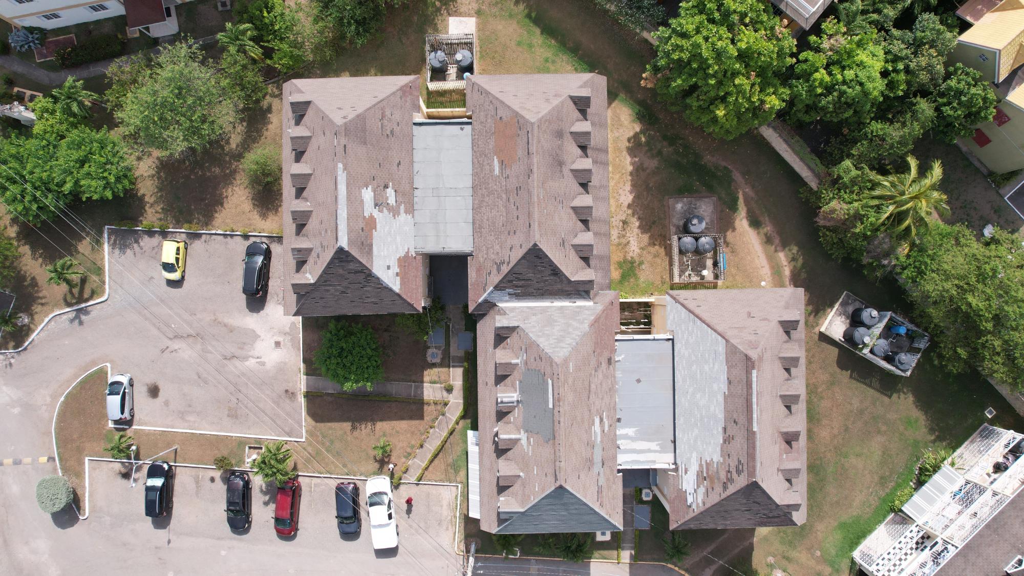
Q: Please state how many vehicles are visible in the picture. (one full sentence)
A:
The number of vehicles here is 8.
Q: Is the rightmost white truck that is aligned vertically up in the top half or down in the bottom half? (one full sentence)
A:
It is in the bottom half that the rightmost white truck that is aligned vertically appears.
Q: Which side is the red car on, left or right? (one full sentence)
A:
The red car is on the left side of the image.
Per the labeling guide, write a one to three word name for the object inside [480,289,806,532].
building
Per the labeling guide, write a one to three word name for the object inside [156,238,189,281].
car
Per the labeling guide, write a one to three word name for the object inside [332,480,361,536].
car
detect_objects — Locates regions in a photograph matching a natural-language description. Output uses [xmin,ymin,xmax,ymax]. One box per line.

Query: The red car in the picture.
[267,479,302,541]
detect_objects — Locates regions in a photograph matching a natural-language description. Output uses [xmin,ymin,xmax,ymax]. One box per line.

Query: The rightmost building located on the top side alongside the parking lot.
[282,73,608,316]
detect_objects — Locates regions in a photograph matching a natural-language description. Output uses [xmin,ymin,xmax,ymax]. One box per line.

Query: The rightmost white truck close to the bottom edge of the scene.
[362,472,398,549]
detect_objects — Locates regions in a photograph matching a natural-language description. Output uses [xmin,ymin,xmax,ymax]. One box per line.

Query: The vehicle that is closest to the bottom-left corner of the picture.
[137,460,173,520]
